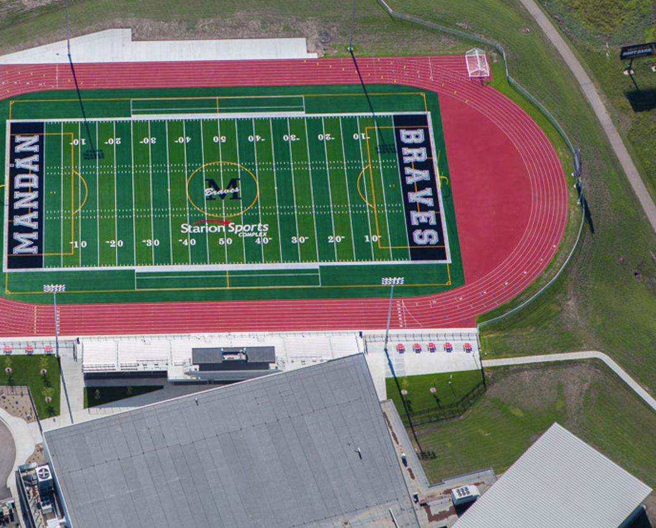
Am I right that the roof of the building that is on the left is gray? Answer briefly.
Yes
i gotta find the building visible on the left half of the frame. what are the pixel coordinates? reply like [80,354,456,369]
[42,352,418,528]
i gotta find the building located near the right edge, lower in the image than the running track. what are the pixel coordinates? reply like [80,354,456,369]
[449,424,653,528]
